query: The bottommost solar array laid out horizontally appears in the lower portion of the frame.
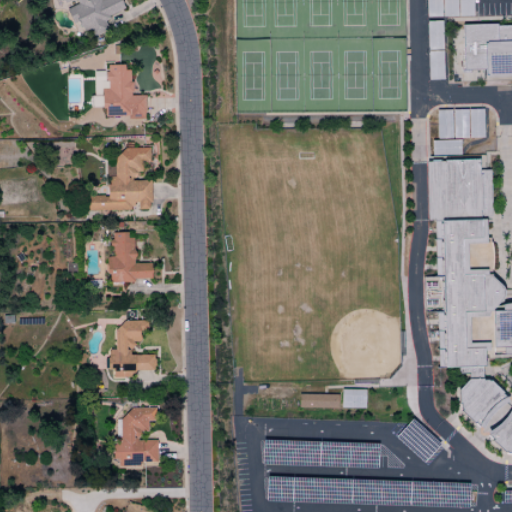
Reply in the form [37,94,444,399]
[268,477,472,508]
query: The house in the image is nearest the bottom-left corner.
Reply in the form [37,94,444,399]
[114,408,159,466]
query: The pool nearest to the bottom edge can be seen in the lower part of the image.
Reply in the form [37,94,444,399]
[88,330,104,355]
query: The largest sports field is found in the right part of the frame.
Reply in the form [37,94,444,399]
[218,128,402,382]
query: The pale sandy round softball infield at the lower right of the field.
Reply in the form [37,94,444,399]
[330,308,402,380]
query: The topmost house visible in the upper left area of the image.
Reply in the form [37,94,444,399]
[68,0,129,36]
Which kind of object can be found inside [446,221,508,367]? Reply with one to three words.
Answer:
building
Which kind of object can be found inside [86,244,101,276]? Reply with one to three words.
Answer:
swimming pool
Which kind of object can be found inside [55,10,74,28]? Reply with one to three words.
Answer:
swimming pool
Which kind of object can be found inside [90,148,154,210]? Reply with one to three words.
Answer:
house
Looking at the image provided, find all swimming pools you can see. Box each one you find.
[68,78,82,103]
[55,10,74,28]
[88,330,104,355]
[86,244,101,276]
